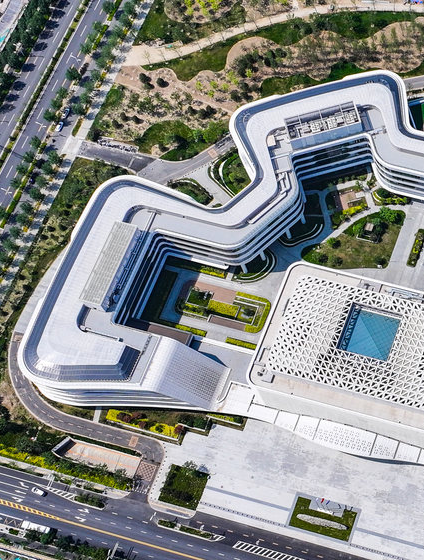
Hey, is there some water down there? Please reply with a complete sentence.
No, there's no water in this view.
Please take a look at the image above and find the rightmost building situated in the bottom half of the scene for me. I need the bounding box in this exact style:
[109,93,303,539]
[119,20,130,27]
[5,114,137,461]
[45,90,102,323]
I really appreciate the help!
[249,261,424,449]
